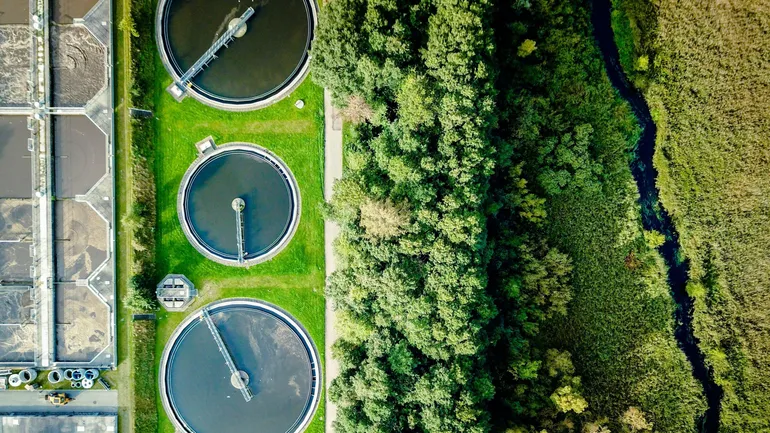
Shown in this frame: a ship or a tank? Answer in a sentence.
It is a tank that can be seen here.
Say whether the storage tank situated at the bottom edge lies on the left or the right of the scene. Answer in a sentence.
It is on the left.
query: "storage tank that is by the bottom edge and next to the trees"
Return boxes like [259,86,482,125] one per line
[159,298,322,433]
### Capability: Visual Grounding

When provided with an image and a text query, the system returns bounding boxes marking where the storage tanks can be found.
[177,142,302,266]
[159,298,322,433]
[156,0,322,114]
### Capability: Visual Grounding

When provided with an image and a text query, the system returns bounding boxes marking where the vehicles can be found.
[46,392,81,406]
